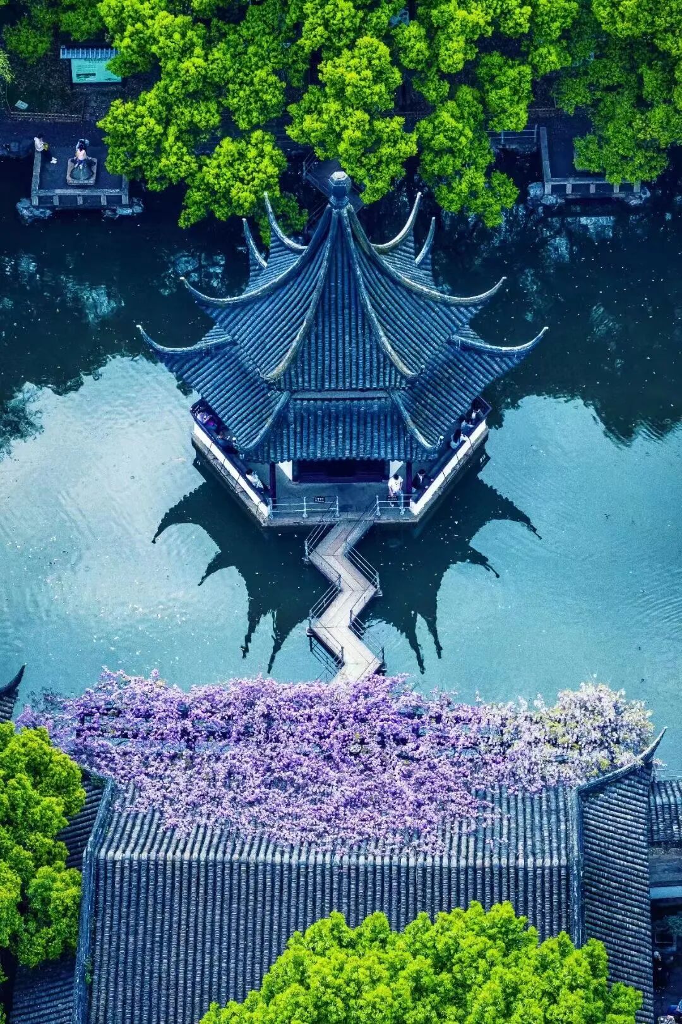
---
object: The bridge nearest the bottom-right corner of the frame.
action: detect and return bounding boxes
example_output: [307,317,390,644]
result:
[304,515,386,746]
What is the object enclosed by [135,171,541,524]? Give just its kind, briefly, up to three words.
building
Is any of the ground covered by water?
Yes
